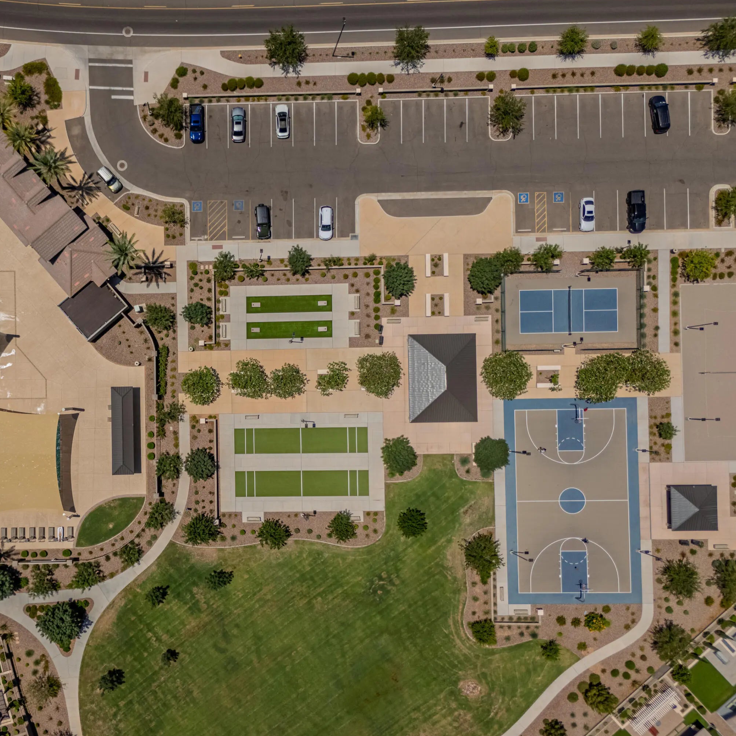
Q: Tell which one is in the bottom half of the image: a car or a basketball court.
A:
basketball court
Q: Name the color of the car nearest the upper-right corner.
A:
black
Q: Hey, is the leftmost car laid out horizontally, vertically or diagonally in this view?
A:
diagonally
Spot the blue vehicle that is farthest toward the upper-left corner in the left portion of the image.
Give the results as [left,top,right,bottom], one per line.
[188,103,206,145]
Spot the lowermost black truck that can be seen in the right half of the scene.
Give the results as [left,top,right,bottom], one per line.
[624,189,649,234]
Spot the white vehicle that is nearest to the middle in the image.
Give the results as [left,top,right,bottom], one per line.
[317,206,334,242]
